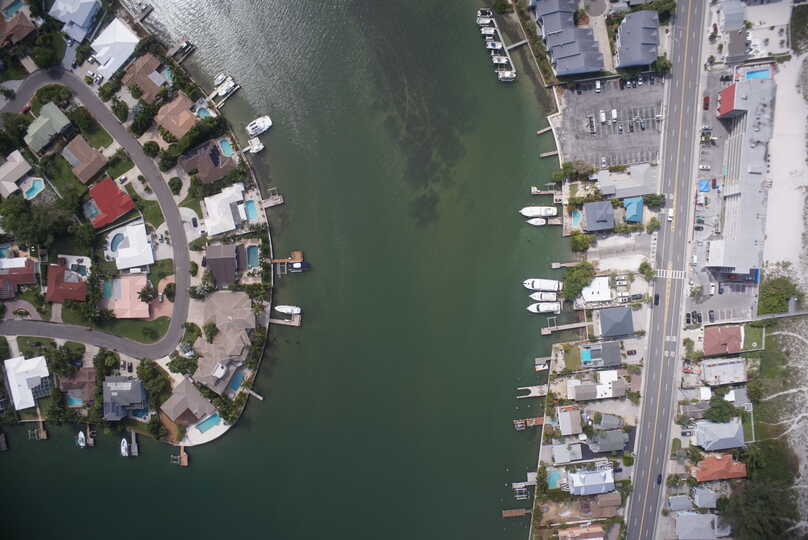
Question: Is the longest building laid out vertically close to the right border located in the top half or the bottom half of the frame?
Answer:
top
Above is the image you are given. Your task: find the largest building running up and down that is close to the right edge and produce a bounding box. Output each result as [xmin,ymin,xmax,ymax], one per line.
[701,80,779,283]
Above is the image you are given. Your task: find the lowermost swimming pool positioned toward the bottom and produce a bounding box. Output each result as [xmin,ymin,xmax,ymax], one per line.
[548,470,562,490]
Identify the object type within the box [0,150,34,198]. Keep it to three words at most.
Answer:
house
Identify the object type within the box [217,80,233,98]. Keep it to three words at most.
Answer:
boat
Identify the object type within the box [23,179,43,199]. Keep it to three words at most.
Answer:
swimming pool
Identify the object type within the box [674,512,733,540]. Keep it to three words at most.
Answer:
house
